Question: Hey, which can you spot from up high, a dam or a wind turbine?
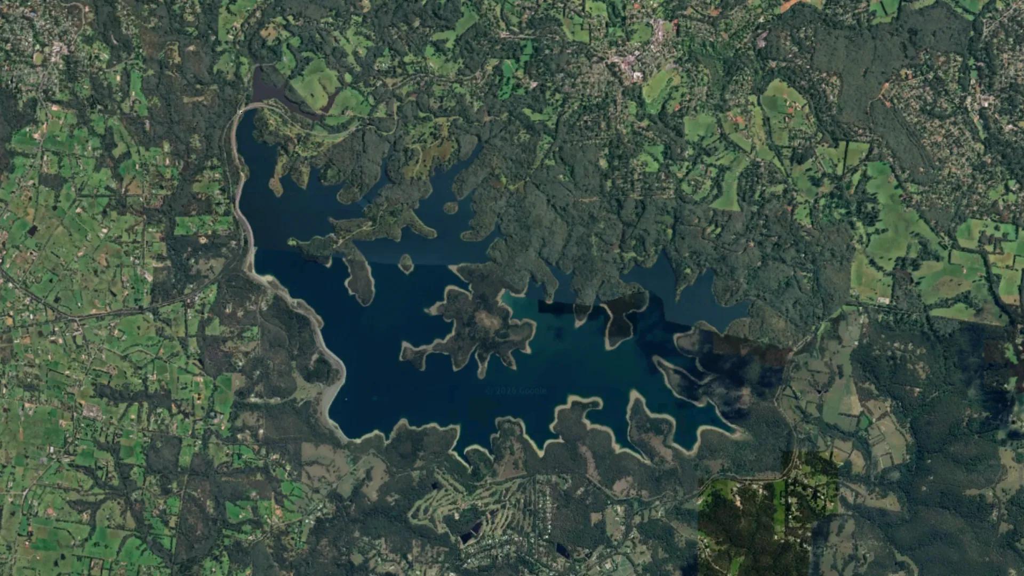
dam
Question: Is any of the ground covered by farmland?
Yes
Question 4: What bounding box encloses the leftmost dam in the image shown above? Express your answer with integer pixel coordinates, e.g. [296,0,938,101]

[232,104,255,266]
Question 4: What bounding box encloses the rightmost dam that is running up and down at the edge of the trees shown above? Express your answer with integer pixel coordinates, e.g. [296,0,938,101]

[285,296,348,443]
